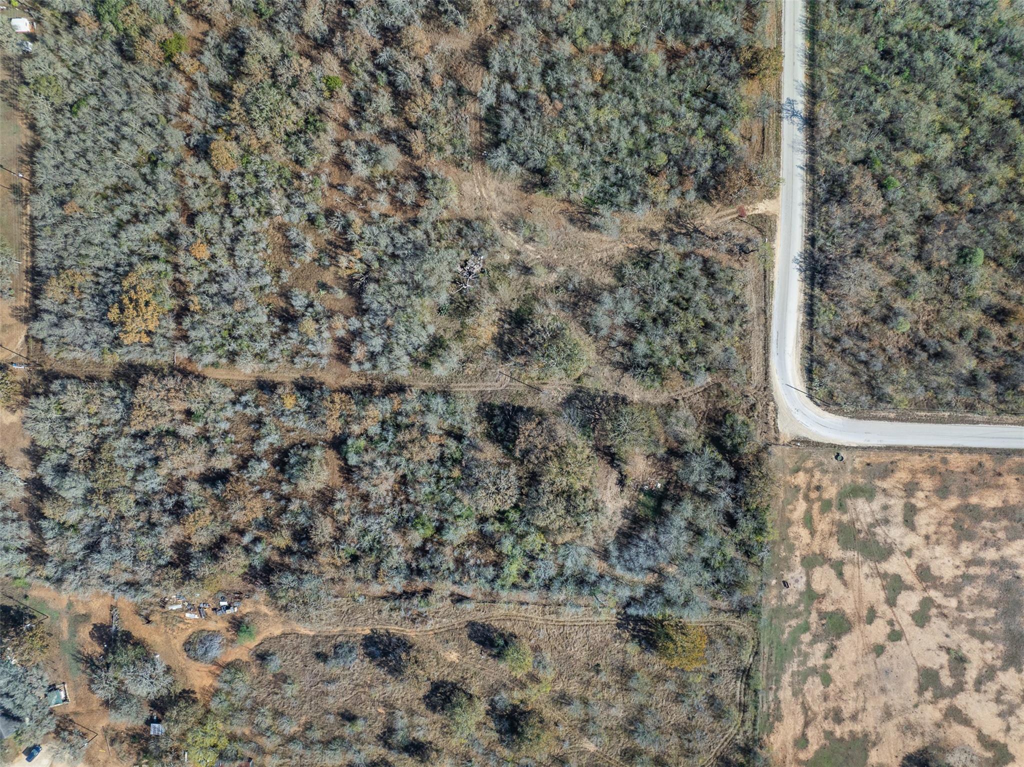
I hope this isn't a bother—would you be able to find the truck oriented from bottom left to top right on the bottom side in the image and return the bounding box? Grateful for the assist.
[21,743,42,765]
